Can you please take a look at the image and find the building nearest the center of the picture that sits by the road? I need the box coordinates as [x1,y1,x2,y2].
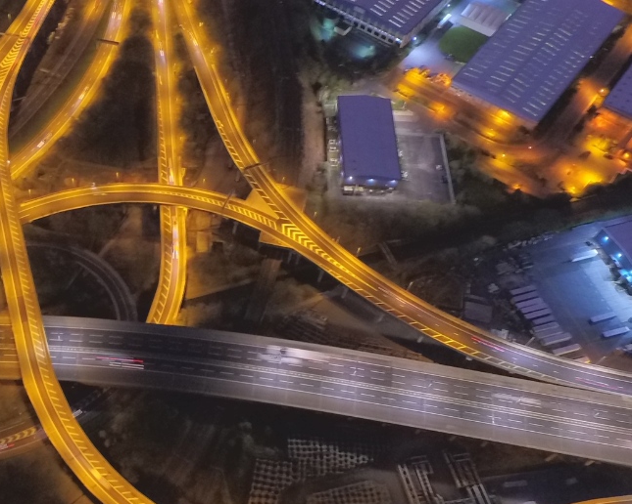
[335,94,398,188]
